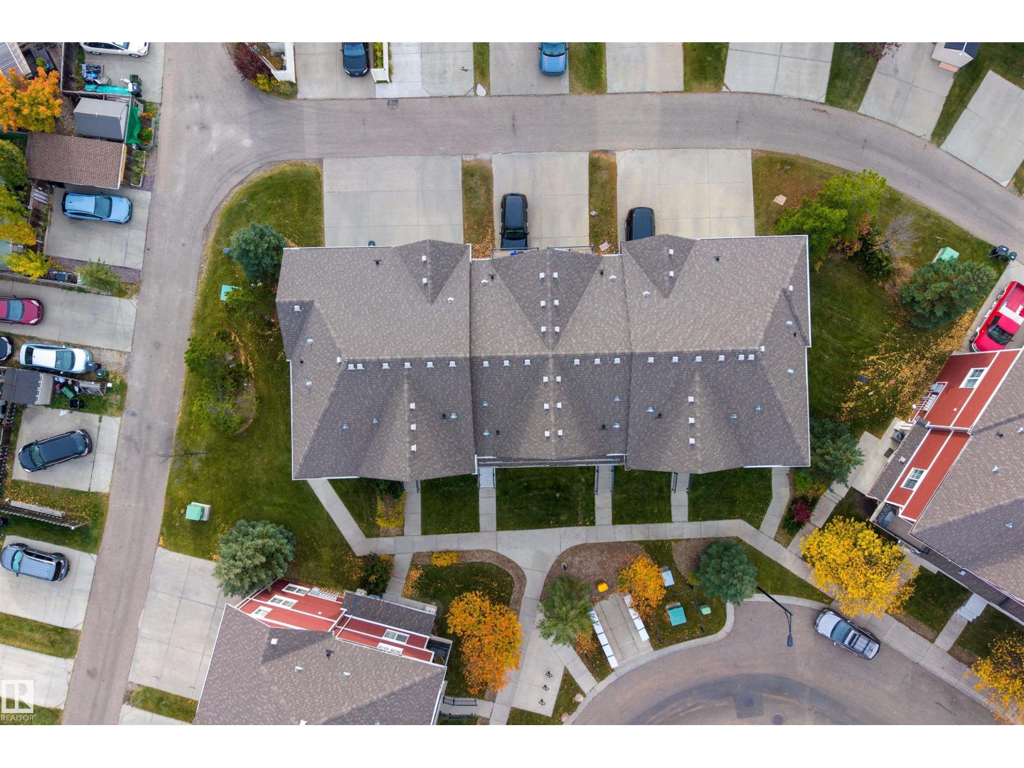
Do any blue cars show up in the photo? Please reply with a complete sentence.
Yes, there's a blue car here.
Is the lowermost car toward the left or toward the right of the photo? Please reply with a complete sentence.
You can find the lowermost car on the right side of the picture.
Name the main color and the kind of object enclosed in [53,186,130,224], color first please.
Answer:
blue car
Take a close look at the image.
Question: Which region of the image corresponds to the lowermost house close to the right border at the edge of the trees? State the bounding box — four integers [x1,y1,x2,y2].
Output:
[848,344,1024,627]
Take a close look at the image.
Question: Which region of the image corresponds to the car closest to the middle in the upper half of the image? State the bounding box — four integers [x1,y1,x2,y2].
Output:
[497,186,532,253]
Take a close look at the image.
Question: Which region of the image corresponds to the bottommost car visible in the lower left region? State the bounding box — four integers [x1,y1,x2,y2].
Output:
[0,543,69,585]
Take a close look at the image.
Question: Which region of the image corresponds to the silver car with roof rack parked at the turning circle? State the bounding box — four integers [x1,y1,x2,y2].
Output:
[814,606,890,667]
